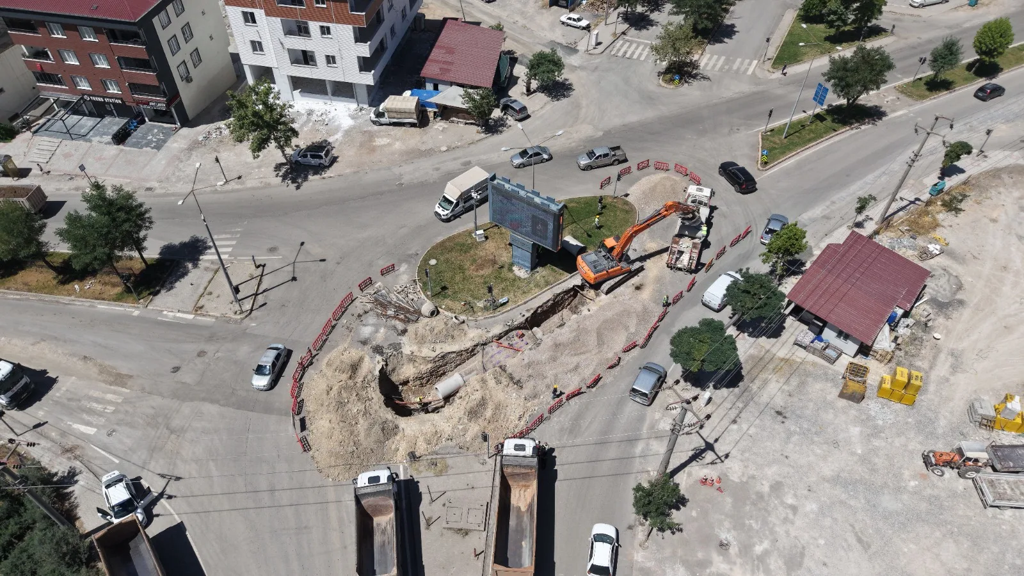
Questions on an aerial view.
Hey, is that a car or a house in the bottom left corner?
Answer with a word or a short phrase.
car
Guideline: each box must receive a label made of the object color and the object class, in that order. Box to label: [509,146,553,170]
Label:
gray car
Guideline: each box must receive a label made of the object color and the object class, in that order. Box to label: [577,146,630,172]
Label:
gray truck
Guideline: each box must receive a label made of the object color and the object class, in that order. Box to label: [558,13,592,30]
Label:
white car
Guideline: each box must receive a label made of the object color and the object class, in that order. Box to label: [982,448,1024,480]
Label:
gray trailer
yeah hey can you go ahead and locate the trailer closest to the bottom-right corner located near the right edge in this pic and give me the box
[975,478,1024,513]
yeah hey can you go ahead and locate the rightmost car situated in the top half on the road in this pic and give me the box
[975,82,1008,103]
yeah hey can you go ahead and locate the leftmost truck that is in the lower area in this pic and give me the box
[0,350,38,408]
